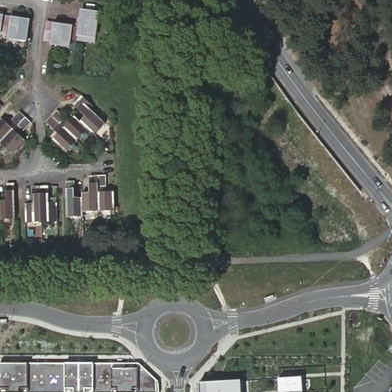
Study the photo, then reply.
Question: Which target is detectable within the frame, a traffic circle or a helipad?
traffic circle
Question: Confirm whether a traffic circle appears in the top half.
No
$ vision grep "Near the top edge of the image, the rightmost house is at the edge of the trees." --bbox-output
[72,8,98,44]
